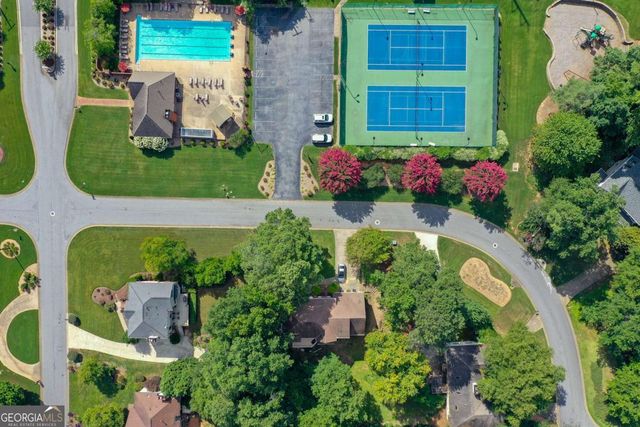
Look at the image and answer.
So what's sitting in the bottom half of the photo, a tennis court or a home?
home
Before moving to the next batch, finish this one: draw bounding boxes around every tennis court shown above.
[368,86,467,132]
[368,24,467,71]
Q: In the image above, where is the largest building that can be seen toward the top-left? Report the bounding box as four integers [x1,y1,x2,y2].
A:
[128,71,181,138]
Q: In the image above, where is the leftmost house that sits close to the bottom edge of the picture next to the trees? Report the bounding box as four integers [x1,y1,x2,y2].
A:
[127,389,181,427]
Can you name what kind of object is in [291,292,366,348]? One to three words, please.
house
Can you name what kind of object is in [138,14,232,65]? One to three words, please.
swimming pool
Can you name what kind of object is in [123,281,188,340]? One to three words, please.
house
